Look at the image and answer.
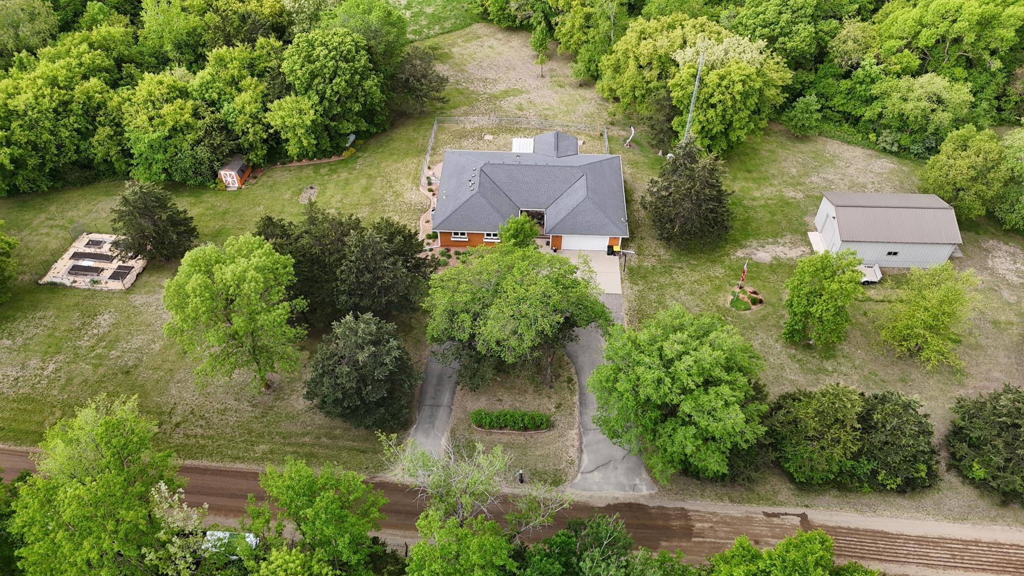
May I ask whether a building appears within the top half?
Yes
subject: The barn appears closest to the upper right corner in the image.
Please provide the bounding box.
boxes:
[804,191,963,269]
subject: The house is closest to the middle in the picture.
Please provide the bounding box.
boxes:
[431,131,635,254]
